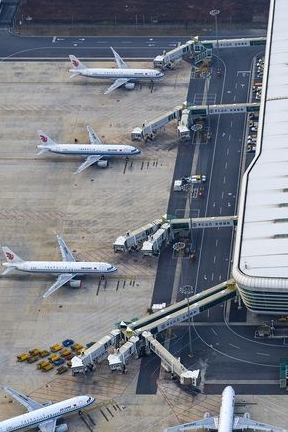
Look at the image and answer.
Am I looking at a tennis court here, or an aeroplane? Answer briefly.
aeroplane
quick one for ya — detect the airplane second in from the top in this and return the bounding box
[36,124,139,174]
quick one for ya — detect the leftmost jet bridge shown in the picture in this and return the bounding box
[67,329,122,376]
